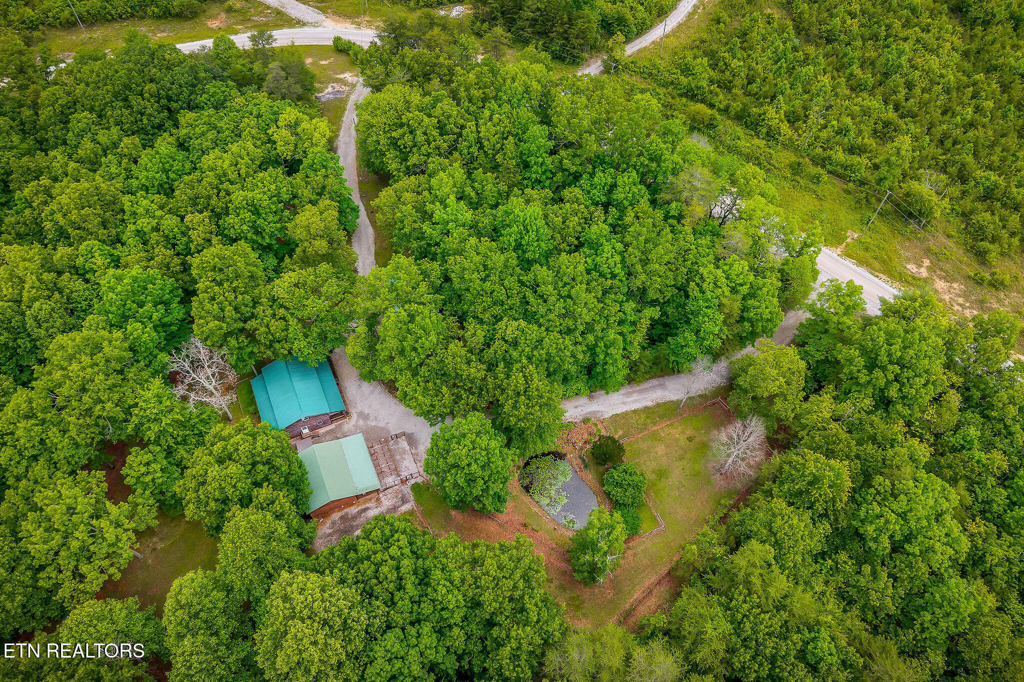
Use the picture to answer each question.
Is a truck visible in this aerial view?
No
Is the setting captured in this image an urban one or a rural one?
rural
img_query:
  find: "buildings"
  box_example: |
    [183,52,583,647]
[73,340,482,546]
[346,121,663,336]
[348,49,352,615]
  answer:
[295,433,381,518]
[251,353,348,440]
